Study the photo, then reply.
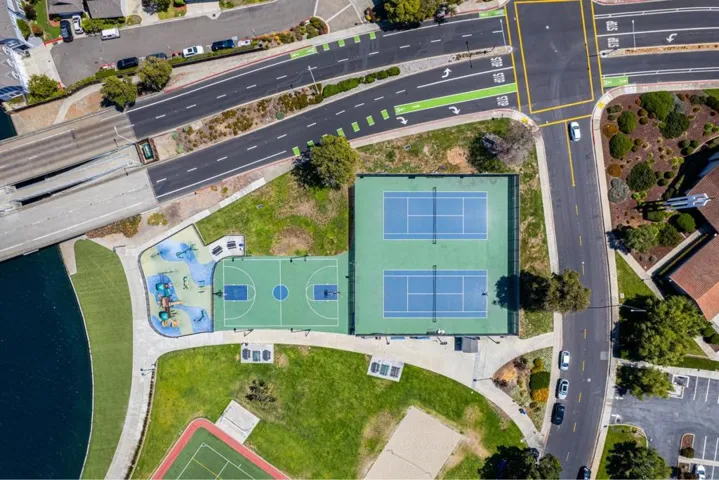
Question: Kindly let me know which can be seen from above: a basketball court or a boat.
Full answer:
Visible in the photo is a basketball court.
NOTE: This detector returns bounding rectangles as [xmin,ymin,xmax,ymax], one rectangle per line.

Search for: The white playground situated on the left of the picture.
[138,223,245,338]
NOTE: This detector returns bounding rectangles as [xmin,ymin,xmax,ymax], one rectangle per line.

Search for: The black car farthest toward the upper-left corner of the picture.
[59,20,73,41]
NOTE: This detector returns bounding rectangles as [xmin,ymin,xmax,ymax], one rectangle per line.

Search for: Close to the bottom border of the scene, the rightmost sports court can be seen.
[363,406,463,480]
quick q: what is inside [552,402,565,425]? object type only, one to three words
vehicle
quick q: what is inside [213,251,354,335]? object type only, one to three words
basketball court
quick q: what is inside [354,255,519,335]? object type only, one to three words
tennis court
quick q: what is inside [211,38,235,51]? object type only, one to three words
vehicle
